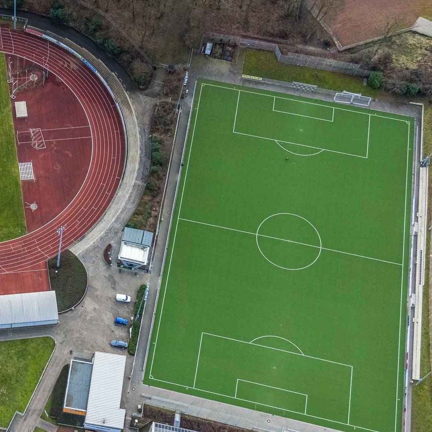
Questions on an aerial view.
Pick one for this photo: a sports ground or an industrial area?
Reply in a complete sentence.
This looks like a sports ground.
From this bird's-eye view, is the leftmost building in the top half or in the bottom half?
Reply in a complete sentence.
The leftmost building is in the bottom half of the image.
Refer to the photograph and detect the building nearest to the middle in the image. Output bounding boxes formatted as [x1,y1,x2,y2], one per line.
[117,227,153,270]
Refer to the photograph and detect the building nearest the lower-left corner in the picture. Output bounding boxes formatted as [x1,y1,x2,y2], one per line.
[63,352,126,432]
